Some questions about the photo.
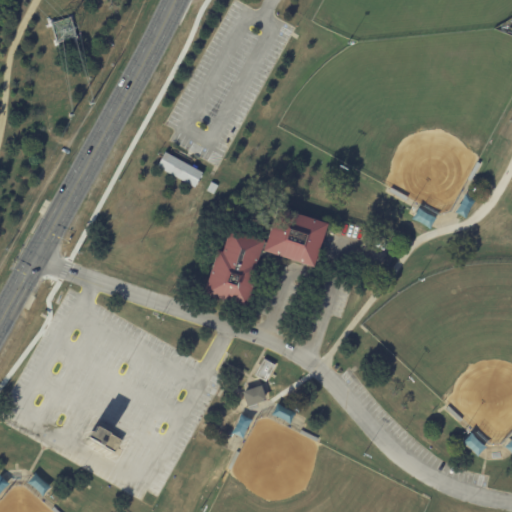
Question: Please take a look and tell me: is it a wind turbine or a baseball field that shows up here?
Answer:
baseball field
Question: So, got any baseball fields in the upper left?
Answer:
No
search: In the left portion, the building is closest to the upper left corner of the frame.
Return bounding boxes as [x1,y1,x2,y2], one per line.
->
[160,153,202,188]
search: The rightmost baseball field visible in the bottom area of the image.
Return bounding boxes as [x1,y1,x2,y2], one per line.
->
[364,263,512,442]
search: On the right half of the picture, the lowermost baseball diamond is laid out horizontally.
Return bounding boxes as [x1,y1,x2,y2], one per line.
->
[208,418,430,512]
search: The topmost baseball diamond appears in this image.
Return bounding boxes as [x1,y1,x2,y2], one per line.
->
[314,0,512,41]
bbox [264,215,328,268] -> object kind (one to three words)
building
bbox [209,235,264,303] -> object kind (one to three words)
building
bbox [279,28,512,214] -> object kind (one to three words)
baseball field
